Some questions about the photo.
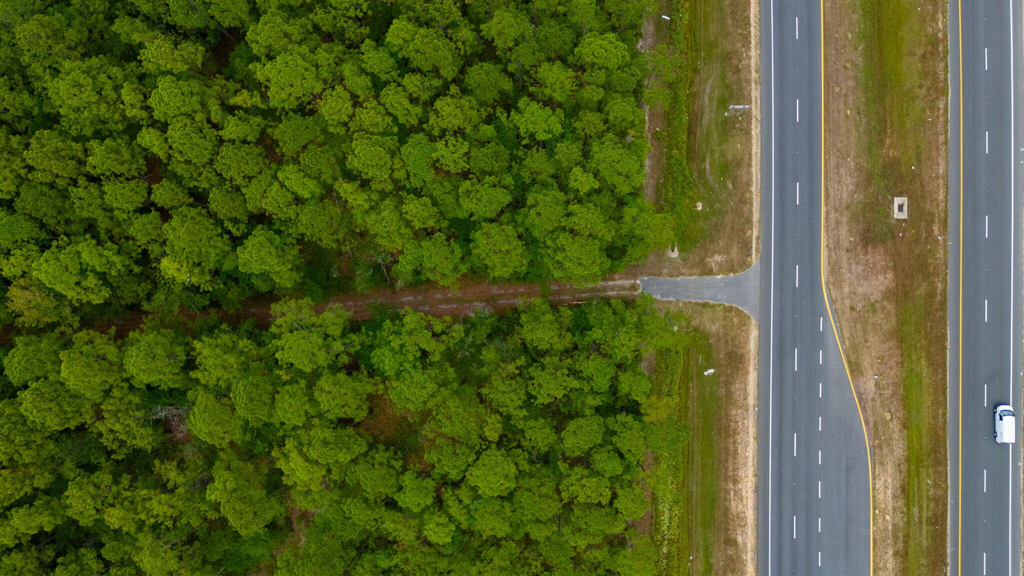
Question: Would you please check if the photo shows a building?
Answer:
No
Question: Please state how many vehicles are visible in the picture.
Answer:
one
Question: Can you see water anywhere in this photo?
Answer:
No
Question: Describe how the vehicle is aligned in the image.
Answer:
from top to bottom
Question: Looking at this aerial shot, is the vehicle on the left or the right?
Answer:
right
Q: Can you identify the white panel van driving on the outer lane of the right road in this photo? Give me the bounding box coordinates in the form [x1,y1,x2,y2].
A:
[993,403,1014,445]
